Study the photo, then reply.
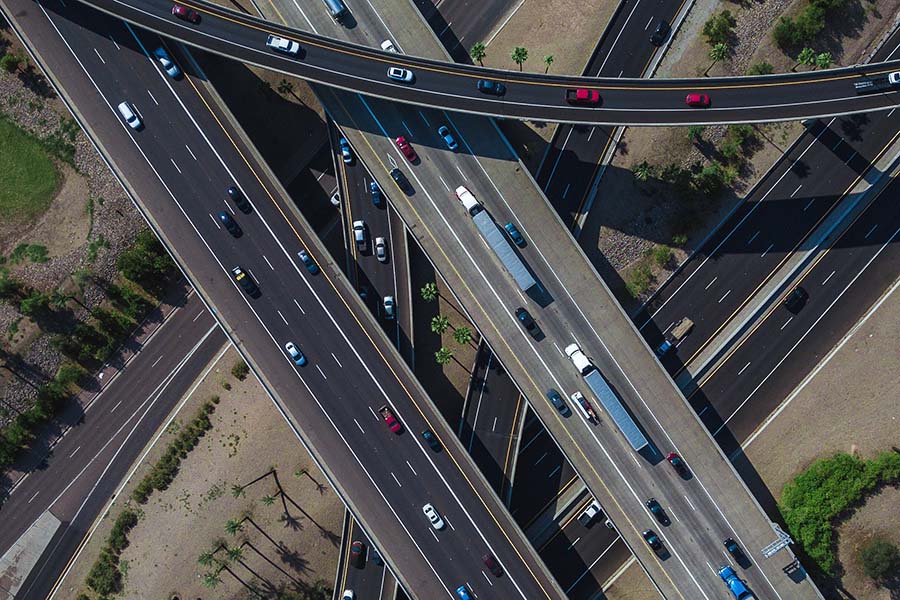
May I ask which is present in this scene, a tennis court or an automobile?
automobile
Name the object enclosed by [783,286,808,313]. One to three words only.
car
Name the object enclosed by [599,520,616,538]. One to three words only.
car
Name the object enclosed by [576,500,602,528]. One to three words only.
truck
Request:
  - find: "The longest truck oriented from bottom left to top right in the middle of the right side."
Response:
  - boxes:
[655,314,695,356]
